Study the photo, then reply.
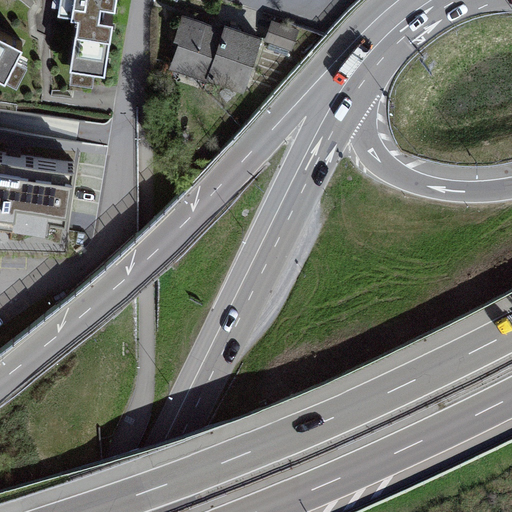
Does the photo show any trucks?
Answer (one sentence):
Yes, this view includes a truck.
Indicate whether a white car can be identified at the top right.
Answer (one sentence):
Yes, looking at the top right, one can make out a white car.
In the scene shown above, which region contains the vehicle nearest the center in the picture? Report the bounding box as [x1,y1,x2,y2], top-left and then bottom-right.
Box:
[223,308,239,330]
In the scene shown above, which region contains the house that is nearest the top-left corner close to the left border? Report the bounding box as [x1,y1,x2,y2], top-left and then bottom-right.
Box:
[0,32,29,90]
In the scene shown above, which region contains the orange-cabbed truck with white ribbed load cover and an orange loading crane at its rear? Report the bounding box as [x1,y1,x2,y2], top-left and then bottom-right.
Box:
[330,40,370,84]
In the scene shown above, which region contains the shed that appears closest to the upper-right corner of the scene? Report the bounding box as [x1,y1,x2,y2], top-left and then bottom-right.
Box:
[264,18,298,51]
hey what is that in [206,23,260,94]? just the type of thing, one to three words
house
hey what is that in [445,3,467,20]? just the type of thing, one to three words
car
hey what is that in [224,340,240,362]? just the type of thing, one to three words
car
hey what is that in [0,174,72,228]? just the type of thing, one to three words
building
